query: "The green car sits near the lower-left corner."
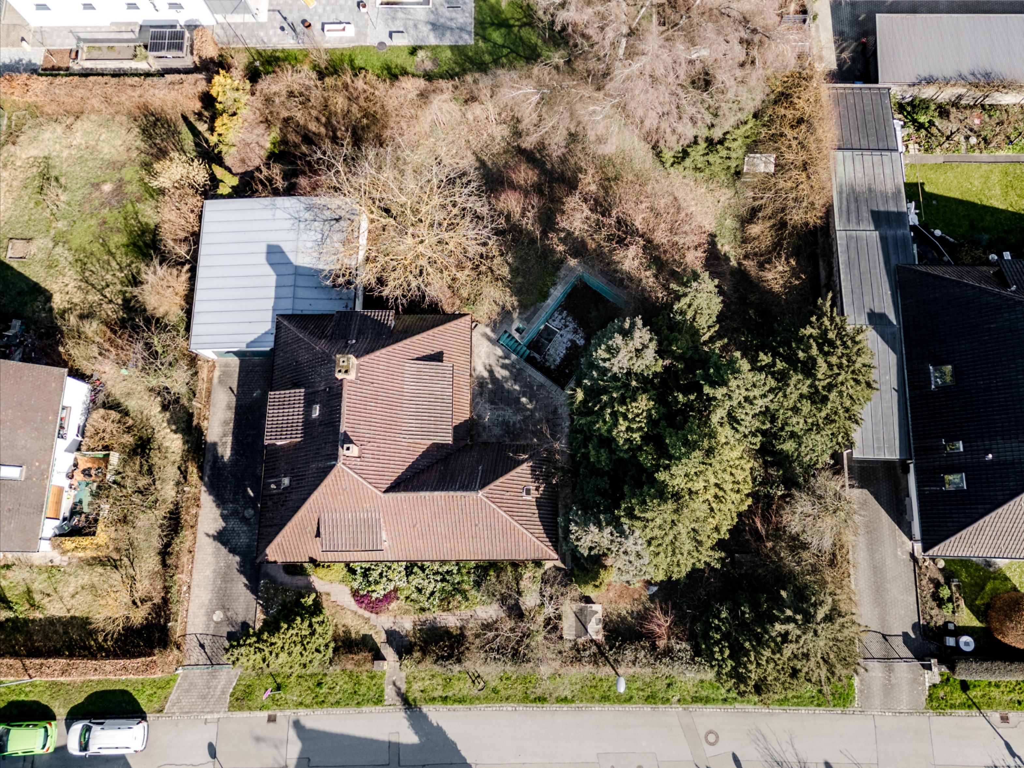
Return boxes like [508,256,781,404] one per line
[0,717,62,757]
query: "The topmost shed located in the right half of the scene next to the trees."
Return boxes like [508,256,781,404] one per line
[855,11,1024,104]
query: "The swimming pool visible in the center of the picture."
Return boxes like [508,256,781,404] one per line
[497,273,629,389]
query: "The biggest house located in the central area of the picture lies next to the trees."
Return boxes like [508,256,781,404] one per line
[256,308,562,564]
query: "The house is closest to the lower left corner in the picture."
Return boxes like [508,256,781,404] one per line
[0,360,91,553]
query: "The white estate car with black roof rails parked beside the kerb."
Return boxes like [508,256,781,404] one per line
[71,715,154,758]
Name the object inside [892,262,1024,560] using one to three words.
house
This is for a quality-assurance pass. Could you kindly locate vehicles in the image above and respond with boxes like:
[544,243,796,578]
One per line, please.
[71,715,154,758]
[0,717,62,757]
